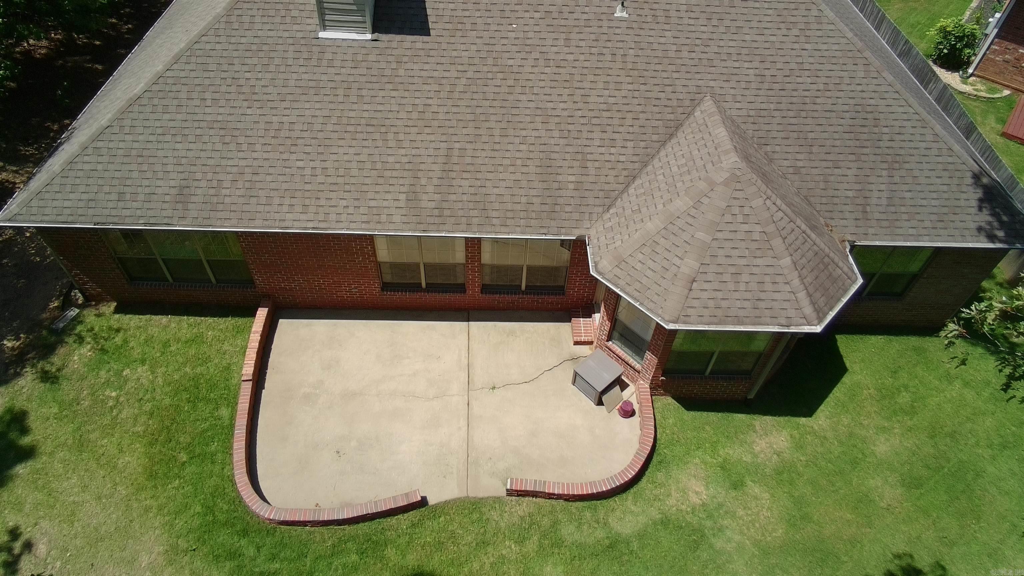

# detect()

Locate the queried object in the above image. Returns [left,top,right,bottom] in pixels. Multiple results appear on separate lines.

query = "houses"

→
[970,0,1024,93]
[0,0,1024,399]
